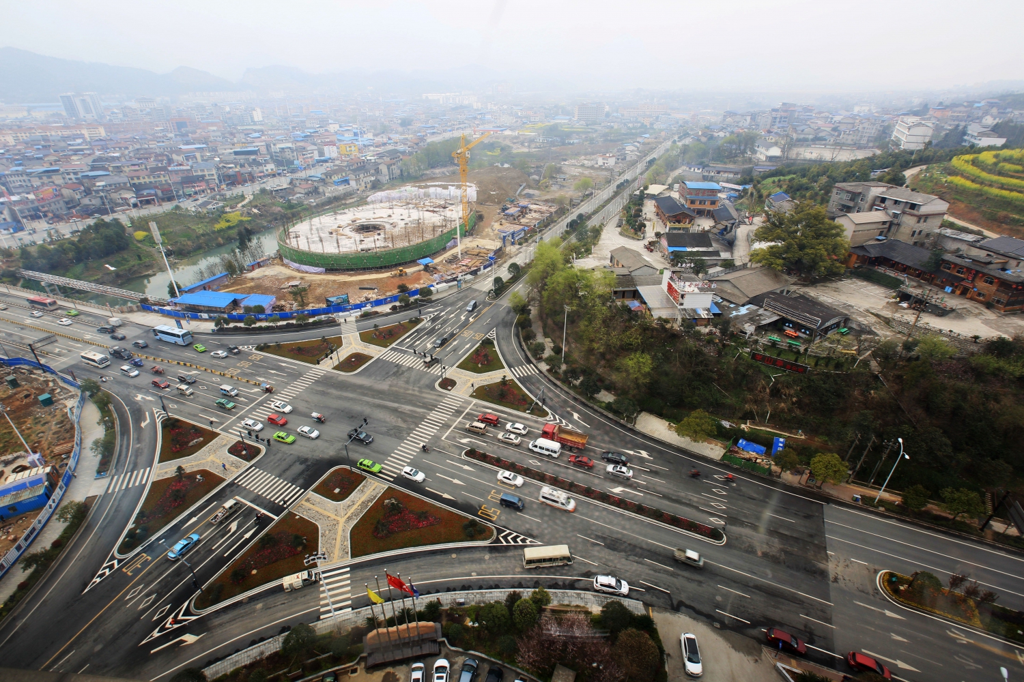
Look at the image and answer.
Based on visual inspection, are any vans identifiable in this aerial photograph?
Yes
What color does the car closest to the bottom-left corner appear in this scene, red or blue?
blue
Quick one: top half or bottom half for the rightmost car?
bottom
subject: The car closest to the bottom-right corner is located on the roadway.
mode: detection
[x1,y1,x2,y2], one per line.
[845,651,893,682]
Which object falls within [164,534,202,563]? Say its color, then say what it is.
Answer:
blue car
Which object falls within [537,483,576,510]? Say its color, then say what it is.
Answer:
white vehicle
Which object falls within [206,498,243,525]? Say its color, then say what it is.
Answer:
gray truck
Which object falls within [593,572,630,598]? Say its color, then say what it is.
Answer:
white car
